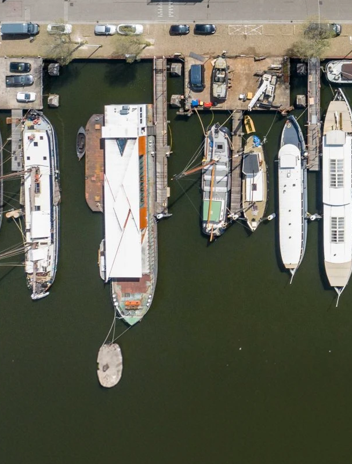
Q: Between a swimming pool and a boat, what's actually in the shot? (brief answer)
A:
boat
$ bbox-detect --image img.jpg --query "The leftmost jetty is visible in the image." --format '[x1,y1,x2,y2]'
[12,108,25,170]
